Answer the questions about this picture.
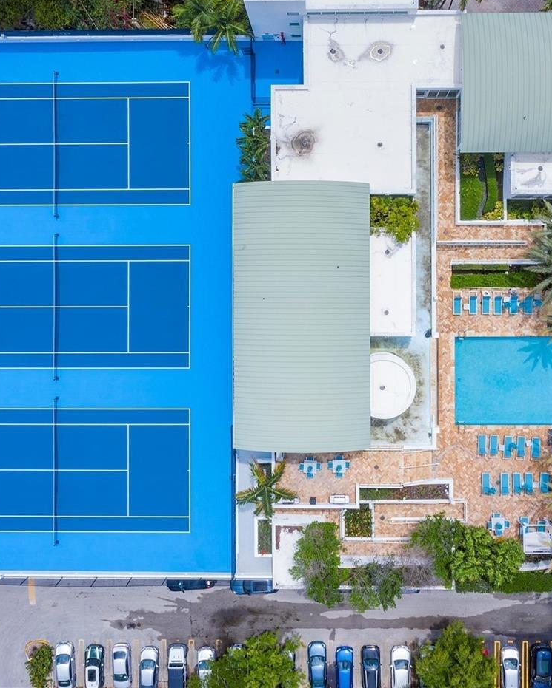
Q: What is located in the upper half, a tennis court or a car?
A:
tennis court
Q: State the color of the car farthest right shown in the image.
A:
blue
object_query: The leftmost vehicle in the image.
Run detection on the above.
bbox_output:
[51,642,75,688]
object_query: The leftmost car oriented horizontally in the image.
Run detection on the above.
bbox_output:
[168,579,218,594]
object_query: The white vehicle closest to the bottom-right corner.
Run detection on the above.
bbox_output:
[500,645,523,688]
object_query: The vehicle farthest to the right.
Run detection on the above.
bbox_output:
[530,643,552,688]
